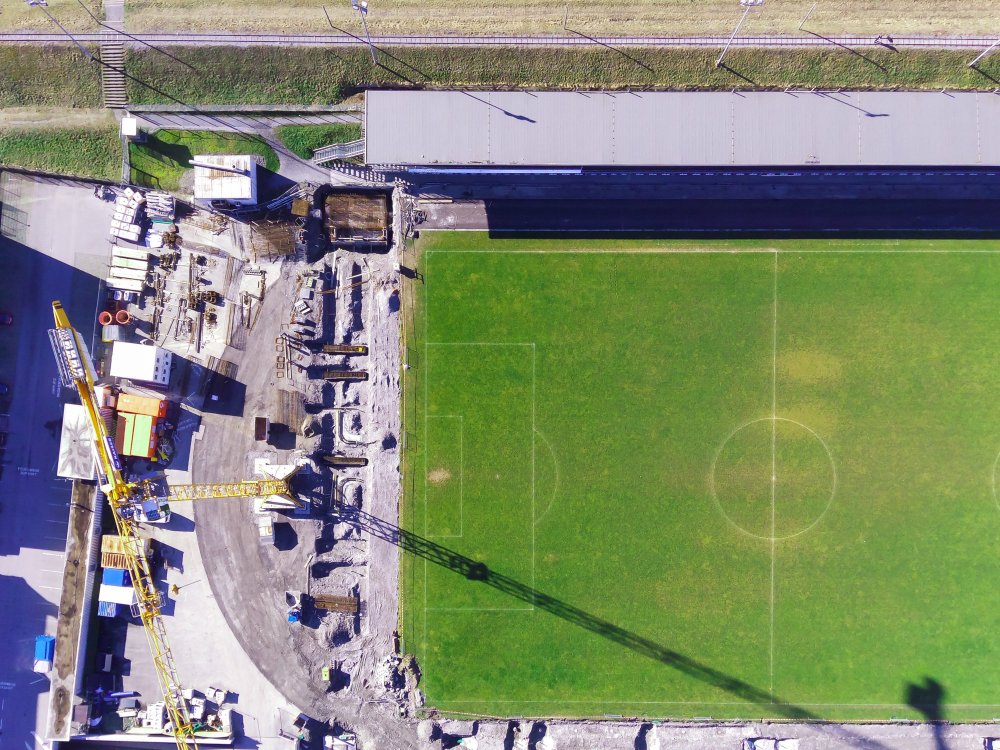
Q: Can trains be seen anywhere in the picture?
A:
No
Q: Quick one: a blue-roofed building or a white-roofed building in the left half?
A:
white-roofed building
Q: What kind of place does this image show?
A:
sports ground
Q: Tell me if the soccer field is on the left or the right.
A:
right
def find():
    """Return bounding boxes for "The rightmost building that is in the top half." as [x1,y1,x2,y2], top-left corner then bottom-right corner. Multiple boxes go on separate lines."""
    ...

[186,155,257,205]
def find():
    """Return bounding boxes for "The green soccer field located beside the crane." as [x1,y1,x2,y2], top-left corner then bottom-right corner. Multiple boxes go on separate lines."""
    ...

[398,231,1000,722]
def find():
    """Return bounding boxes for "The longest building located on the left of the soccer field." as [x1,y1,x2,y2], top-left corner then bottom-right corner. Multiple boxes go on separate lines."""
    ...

[46,479,106,741]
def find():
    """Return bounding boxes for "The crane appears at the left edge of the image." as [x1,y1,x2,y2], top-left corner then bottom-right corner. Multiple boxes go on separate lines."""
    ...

[47,301,312,750]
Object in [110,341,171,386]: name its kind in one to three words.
building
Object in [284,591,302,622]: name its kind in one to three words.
vehicle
